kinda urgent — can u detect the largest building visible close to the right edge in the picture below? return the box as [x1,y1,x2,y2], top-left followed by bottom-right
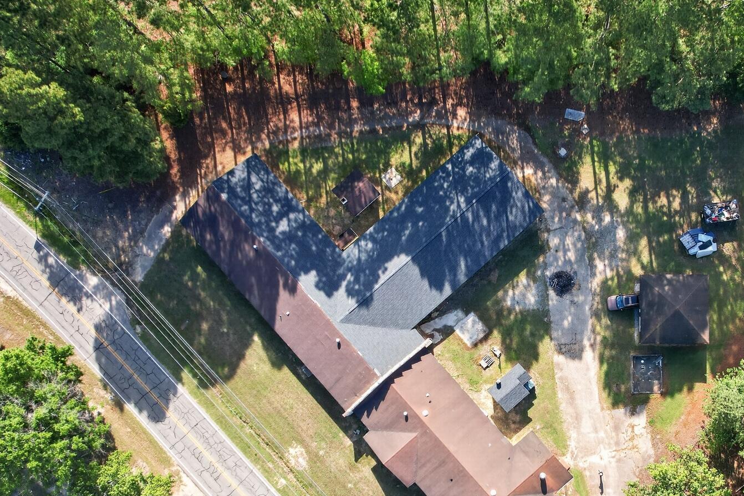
[638,274,710,345]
